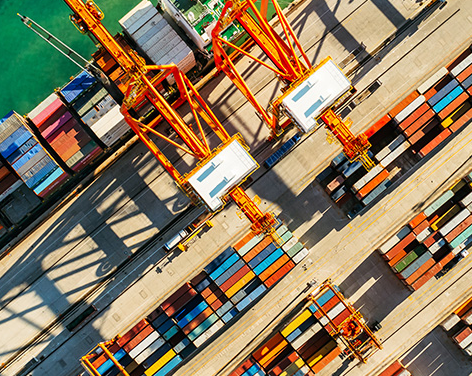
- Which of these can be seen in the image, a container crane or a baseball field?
container crane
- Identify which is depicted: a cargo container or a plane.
cargo container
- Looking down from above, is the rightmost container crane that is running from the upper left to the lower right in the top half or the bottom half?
bottom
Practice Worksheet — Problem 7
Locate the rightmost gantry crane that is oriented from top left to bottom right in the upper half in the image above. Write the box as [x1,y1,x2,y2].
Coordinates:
[207,0,374,169]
